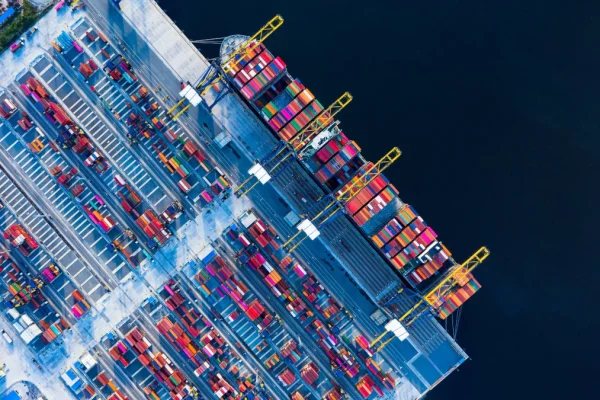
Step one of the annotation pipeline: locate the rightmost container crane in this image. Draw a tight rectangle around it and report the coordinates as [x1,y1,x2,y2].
[370,244,491,351]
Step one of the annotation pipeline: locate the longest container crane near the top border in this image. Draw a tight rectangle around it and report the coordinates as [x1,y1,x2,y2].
[166,13,287,121]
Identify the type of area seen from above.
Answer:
port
